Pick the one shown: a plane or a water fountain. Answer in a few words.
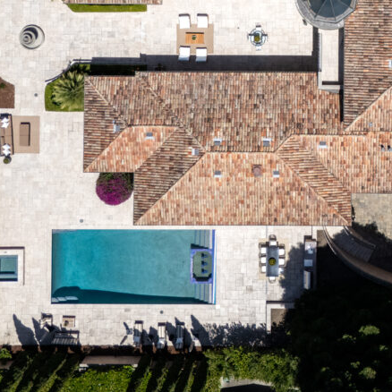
water fountain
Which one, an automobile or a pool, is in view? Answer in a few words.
pool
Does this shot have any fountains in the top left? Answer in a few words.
Yes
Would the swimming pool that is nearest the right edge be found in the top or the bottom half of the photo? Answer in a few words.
bottom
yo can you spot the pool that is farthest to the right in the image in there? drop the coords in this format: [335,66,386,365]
[47,226,219,309]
